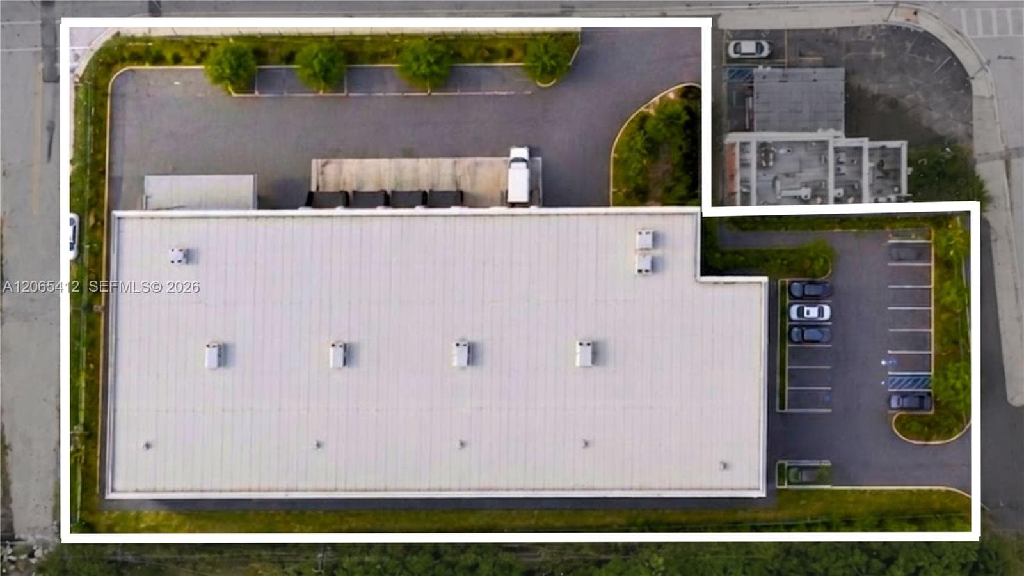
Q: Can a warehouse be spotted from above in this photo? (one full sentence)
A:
Yes, a warehouse can be made out from above.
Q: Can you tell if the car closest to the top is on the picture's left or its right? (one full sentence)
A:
The car closest to the top appears in the right half of the scene.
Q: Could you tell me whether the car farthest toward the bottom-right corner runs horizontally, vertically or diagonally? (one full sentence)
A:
The car farthest toward the bottom-right corner runs horizontally in the image.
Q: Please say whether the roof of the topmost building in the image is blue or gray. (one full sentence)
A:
The roof of the topmost building looks gray in the image.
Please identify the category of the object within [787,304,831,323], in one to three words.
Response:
car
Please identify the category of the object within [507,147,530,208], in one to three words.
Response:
truck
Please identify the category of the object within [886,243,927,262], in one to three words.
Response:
car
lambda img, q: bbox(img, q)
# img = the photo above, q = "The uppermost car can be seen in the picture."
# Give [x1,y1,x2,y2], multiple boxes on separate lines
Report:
[727,38,769,59]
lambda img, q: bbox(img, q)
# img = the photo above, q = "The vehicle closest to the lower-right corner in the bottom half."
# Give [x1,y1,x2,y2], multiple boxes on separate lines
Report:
[886,393,931,413]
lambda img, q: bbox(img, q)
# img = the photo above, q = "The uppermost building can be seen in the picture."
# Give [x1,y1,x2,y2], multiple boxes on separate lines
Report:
[744,68,846,139]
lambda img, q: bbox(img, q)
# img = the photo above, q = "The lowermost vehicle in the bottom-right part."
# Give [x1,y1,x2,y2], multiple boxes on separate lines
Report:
[787,466,826,485]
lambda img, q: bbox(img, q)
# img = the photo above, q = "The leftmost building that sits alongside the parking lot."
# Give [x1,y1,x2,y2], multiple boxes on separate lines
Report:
[106,206,768,500]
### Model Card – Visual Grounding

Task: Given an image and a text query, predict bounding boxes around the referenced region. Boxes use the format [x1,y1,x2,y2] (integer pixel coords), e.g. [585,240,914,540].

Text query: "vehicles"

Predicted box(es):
[59,214,82,258]
[727,38,769,59]
[507,147,530,208]
[787,304,831,323]
[787,280,831,300]
[886,393,931,413]
[787,466,826,485]
[788,326,830,345]
[886,243,927,262]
